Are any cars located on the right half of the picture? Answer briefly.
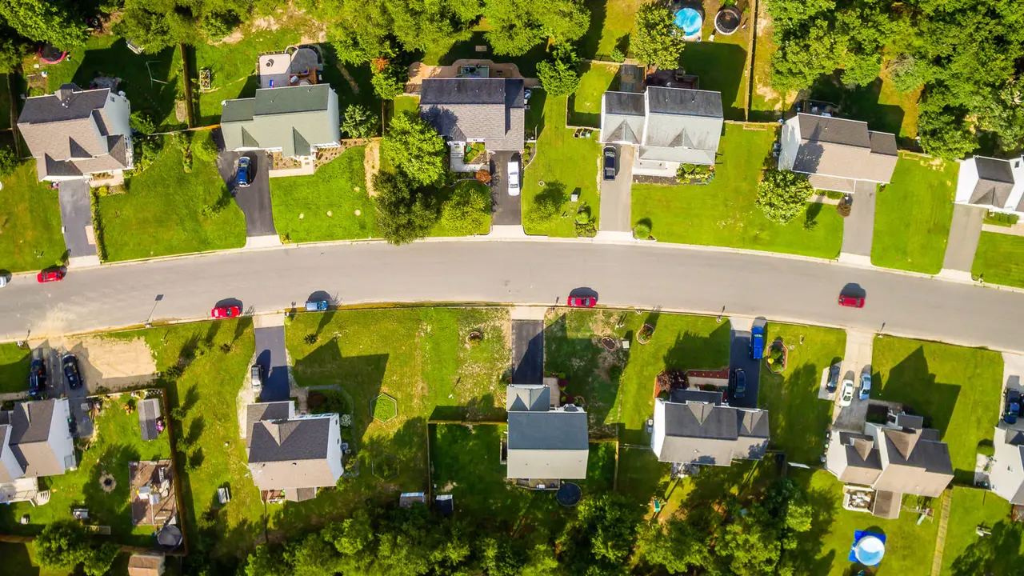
Yes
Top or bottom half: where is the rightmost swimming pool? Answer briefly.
bottom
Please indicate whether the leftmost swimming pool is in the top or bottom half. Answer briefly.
bottom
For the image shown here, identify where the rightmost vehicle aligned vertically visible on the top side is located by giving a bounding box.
[604,147,617,179]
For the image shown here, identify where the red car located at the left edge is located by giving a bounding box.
[34,269,62,282]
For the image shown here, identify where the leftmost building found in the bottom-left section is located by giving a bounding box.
[0,397,75,506]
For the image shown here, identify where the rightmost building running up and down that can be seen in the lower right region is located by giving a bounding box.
[982,428,1024,522]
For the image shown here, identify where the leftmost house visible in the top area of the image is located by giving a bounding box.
[17,83,132,186]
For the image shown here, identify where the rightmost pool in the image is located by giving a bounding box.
[849,532,884,564]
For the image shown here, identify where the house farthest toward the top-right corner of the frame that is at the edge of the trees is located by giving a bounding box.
[950,155,1024,219]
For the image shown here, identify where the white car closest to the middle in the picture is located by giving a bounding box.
[507,158,521,191]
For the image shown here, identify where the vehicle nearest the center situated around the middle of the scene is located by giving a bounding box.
[569,295,597,308]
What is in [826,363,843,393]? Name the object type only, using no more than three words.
car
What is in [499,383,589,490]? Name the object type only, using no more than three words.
house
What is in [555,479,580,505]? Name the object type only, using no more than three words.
swimming pool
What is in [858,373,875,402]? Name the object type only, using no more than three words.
car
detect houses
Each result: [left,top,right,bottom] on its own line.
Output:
[245,395,341,505]
[0,397,75,506]
[827,406,954,519]
[419,79,524,158]
[654,389,770,479]
[779,113,898,194]
[950,155,1024,219]
[499,383,589,490]
[600,86,723,167]
[982,428,1024,522]
[220,84,341,164]
[17,83,132,186]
